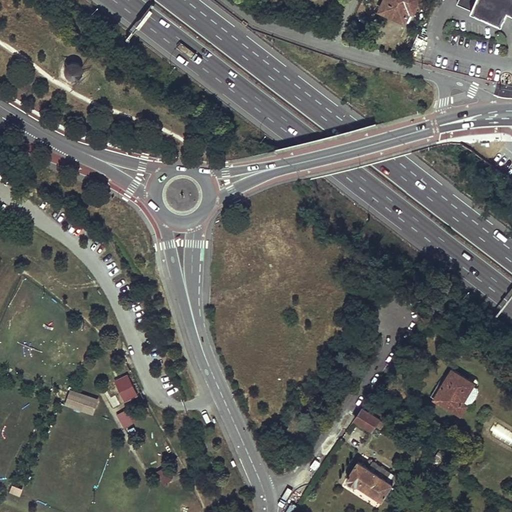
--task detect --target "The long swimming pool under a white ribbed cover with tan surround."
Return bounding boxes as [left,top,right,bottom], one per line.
[482,416,512,450]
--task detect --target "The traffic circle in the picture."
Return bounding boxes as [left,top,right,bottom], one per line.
[109,158,262,244]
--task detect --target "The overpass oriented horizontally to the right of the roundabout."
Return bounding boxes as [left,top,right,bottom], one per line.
[262,114,426,191]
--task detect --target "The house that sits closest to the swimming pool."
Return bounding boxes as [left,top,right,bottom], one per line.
[432,370,477,417]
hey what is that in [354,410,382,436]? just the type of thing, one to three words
house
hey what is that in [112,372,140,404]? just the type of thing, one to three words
building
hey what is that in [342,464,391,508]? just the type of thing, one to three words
house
